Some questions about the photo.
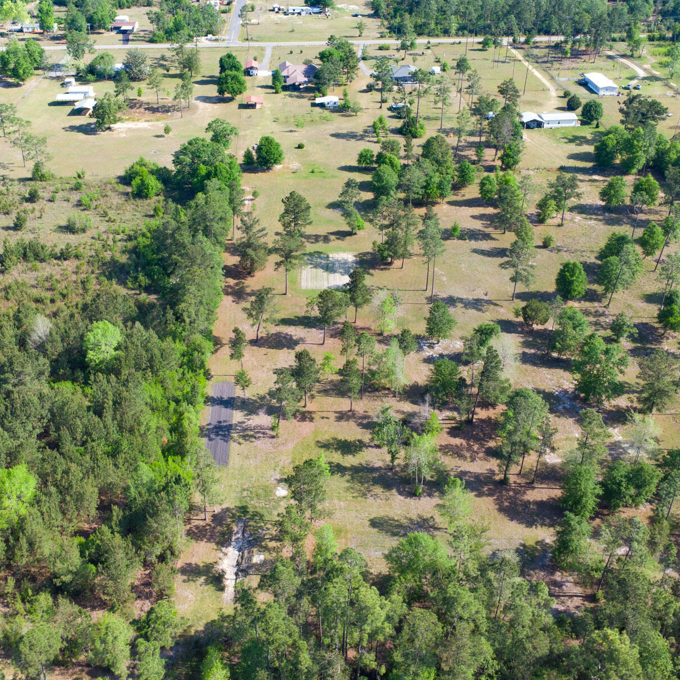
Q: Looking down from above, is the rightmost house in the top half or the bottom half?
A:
top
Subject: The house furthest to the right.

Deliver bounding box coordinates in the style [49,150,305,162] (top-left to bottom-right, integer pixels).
[584,72,619,95]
